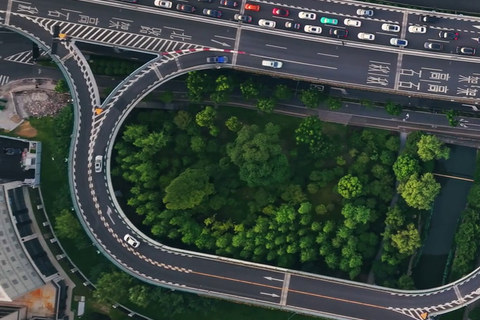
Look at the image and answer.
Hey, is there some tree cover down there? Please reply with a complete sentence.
Yes, some tree cover is visible.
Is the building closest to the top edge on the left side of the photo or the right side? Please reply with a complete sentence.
The building closest to the top edge appears in the left half of the scene.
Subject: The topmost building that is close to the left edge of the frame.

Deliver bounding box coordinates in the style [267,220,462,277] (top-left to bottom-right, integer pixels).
[0,134,51,187]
